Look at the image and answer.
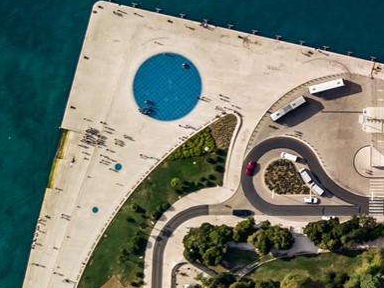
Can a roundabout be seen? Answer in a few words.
Yes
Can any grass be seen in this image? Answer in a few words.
Yes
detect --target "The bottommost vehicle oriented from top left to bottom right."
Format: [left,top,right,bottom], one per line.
[310,182,326,197]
